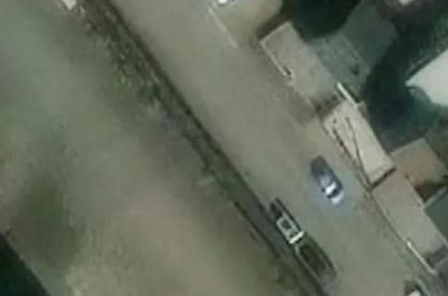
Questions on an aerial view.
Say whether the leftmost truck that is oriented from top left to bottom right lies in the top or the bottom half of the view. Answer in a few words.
bottom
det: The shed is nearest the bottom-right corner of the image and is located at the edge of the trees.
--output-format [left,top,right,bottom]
[392,138,447,188]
